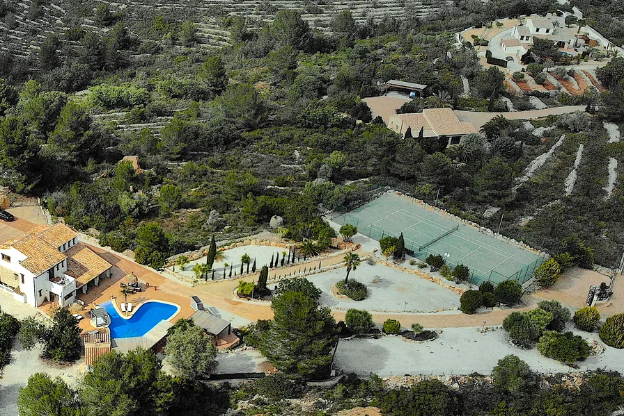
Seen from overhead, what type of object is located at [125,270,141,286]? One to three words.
umbrella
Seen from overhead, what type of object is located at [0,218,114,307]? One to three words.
house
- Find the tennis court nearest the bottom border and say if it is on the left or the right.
right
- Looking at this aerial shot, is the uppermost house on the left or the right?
right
